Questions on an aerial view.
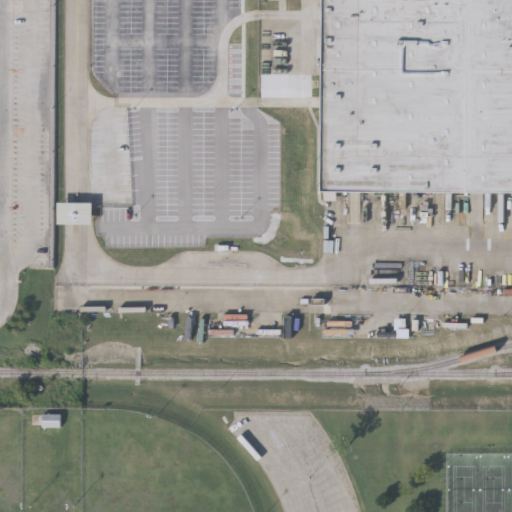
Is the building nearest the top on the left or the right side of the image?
right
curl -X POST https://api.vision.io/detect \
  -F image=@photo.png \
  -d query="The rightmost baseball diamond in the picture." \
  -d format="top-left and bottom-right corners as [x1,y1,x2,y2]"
[84,410,252,512]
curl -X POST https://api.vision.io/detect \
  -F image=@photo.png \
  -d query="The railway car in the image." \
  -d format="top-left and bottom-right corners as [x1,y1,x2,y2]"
[462,346,500,364]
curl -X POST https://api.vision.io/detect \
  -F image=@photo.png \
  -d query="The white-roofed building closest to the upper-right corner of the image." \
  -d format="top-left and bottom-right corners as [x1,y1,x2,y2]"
[321,0,512,192]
